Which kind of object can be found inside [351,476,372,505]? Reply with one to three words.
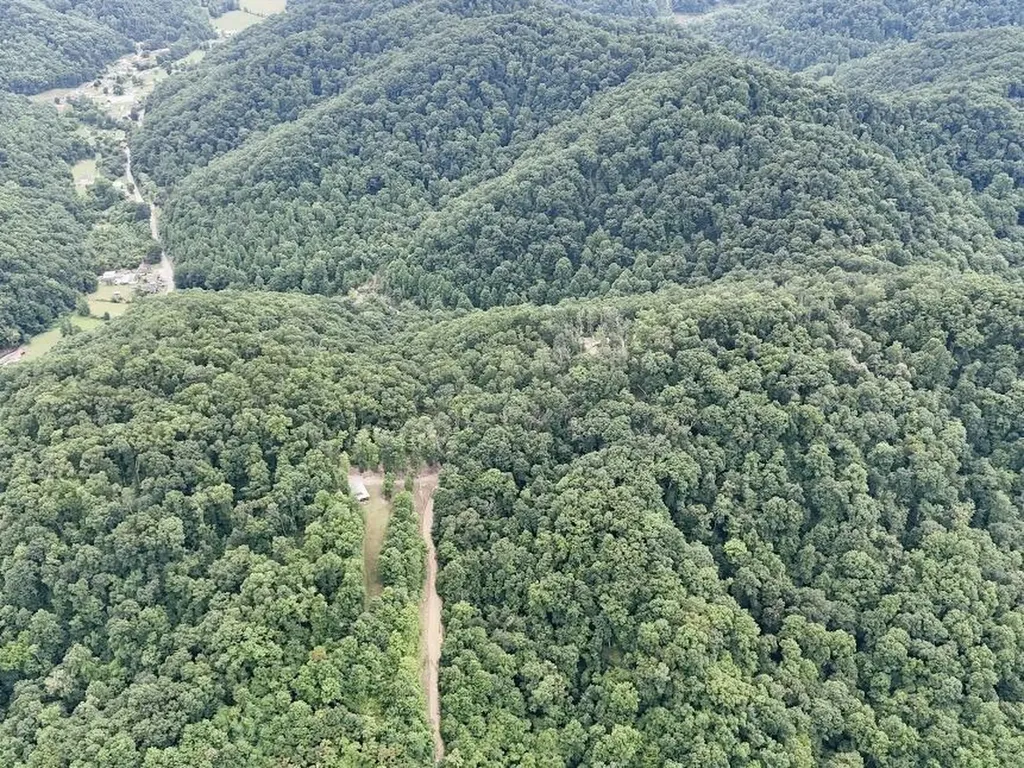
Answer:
building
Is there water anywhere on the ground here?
No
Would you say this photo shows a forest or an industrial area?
forest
